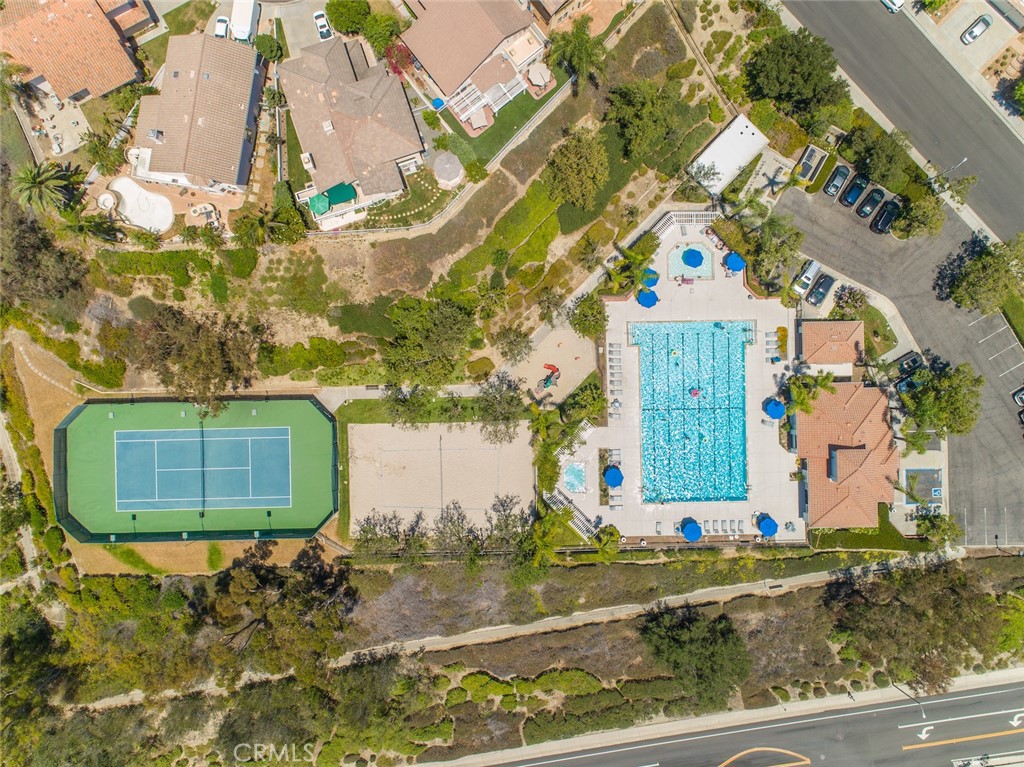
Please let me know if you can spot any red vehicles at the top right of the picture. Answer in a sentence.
No, I see no red vehicle at the top right of the picture.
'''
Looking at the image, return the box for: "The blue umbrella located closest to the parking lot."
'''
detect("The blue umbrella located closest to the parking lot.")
[725,253,745,273]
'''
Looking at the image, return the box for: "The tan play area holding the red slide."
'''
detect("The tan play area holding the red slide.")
[508,329,596,408]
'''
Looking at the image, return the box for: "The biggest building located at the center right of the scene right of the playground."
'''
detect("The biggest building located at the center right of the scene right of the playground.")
[791,382,900,529]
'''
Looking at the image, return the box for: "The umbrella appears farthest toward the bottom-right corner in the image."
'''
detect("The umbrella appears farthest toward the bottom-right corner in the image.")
[757,516,776,535]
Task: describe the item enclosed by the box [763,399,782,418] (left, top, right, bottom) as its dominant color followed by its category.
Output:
blue umbrella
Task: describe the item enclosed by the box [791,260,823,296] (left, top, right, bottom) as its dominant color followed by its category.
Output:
white car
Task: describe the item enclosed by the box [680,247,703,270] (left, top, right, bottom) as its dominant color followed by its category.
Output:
blue umbrella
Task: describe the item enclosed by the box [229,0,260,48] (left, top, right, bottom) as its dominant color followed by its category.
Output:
white camper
